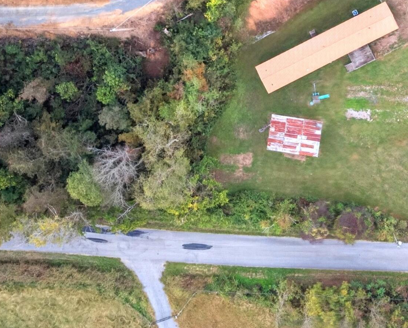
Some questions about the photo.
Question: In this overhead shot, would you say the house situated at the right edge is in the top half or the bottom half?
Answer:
top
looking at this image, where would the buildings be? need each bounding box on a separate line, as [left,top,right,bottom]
[256,2,398,93]
[267,114,323,156]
